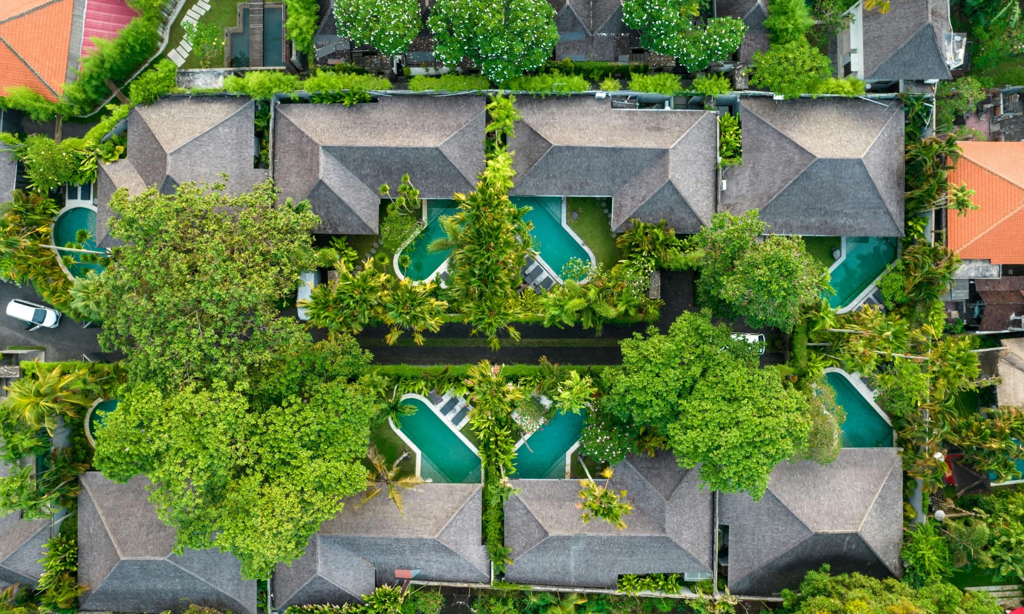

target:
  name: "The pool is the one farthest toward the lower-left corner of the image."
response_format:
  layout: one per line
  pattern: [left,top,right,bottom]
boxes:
[32,427,51,496]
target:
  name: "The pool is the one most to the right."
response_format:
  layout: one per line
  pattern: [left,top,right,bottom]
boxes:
[990,432,1024,485]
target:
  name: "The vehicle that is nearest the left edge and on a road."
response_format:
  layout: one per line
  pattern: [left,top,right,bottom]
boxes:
[8,298,66,334]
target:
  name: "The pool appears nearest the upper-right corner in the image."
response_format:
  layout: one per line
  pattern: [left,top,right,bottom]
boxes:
[806,237,905,319]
